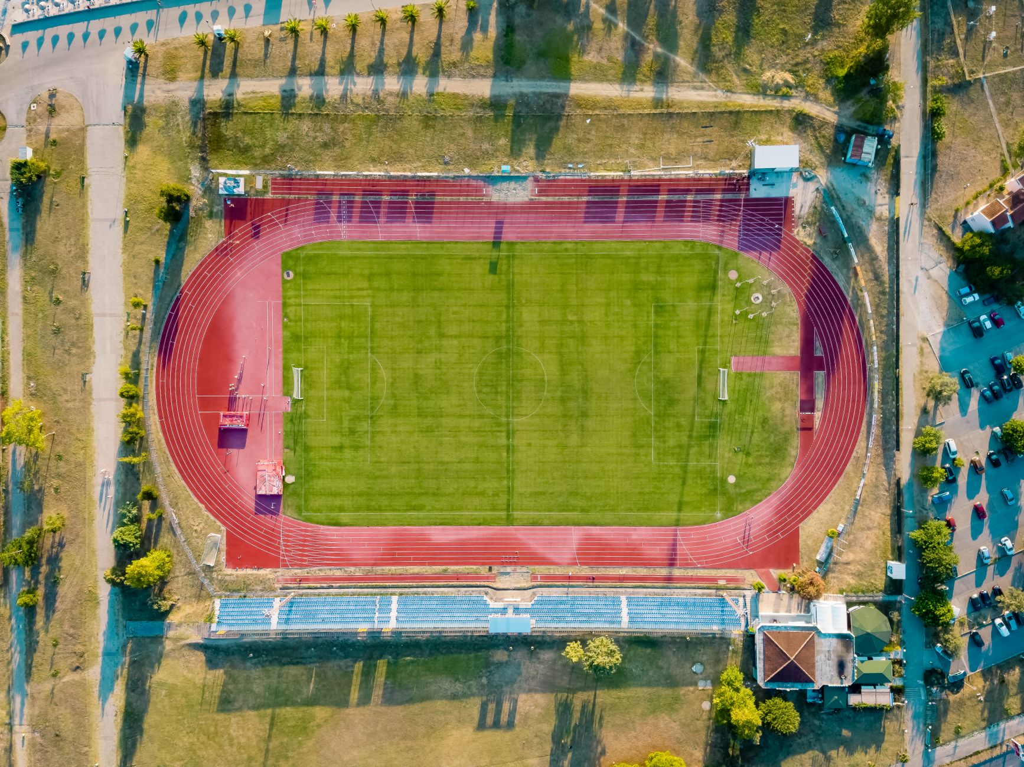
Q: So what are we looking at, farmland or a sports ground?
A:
sports ground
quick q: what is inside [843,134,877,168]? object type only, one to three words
shed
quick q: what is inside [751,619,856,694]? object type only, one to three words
building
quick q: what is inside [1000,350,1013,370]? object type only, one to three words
vehicle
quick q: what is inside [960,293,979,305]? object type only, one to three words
vehicle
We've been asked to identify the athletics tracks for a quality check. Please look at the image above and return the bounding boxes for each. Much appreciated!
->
[156,198,866,591]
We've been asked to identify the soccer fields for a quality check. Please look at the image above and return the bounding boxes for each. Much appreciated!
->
[282,241,825,526]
